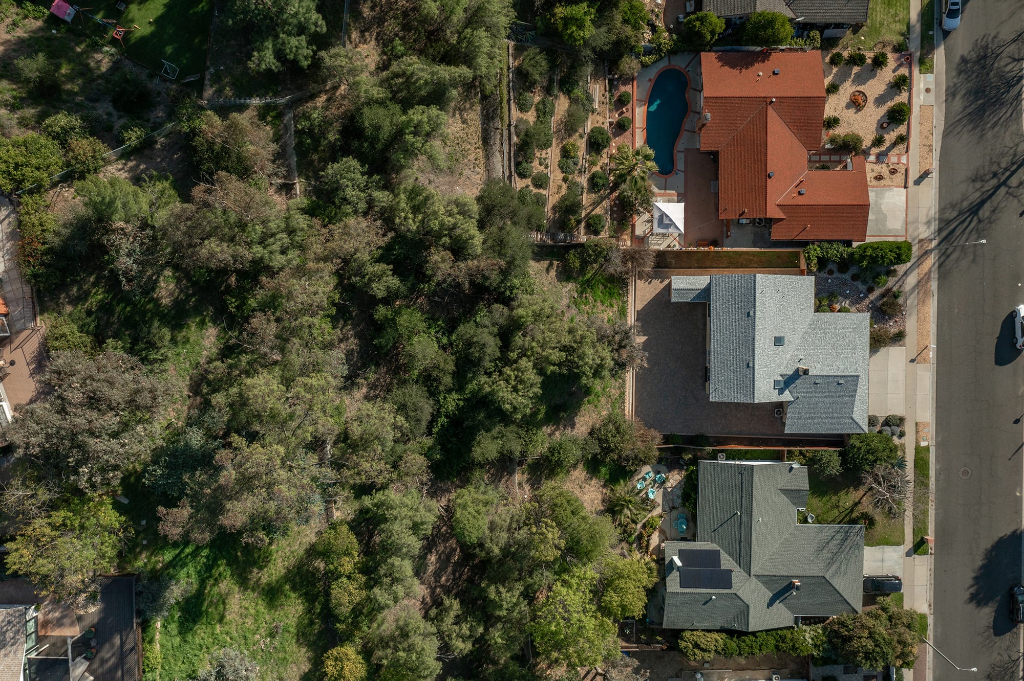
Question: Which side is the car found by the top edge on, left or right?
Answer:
right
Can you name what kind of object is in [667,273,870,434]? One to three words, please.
house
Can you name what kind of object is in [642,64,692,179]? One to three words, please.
swimming pool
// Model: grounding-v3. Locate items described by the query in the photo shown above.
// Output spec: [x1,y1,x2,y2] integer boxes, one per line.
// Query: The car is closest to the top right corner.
[942,0,969,30]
